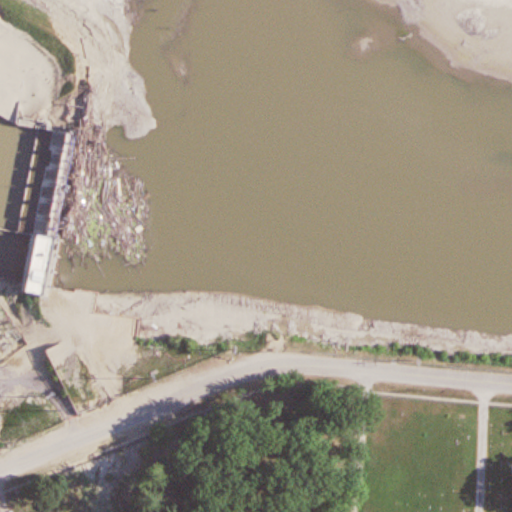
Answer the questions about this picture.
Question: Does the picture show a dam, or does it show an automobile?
dam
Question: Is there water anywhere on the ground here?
Yes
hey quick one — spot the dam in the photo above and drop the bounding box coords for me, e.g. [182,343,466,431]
[20,128,79,243]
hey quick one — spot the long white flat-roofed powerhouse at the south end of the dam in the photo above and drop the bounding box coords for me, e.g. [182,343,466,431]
[25,234,52,299]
